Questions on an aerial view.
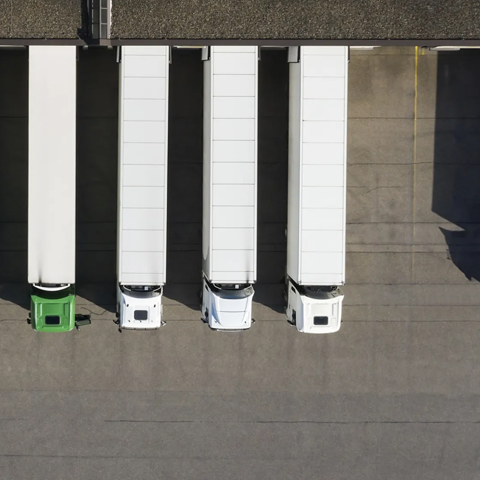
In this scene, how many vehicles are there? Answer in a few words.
4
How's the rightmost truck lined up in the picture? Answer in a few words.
up and down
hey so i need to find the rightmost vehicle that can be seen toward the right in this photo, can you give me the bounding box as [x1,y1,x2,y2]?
[281,45,350,334]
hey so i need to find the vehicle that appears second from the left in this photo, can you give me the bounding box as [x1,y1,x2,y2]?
[112,45,172,338]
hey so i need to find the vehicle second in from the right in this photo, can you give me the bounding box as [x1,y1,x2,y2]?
[197,45,261,333]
